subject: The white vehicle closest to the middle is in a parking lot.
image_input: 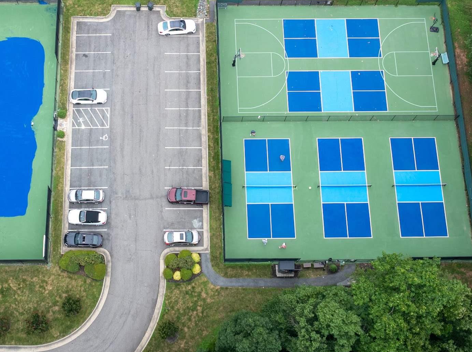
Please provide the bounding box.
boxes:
[163,230,201,247]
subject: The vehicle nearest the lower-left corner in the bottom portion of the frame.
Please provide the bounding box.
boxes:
[63,230,103,248]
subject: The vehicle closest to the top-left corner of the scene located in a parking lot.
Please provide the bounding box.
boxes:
[70,89,106,106]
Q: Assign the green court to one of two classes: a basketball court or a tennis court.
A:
basketball court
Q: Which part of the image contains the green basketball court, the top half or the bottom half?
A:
top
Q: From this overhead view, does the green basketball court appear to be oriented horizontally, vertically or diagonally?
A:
horizontally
